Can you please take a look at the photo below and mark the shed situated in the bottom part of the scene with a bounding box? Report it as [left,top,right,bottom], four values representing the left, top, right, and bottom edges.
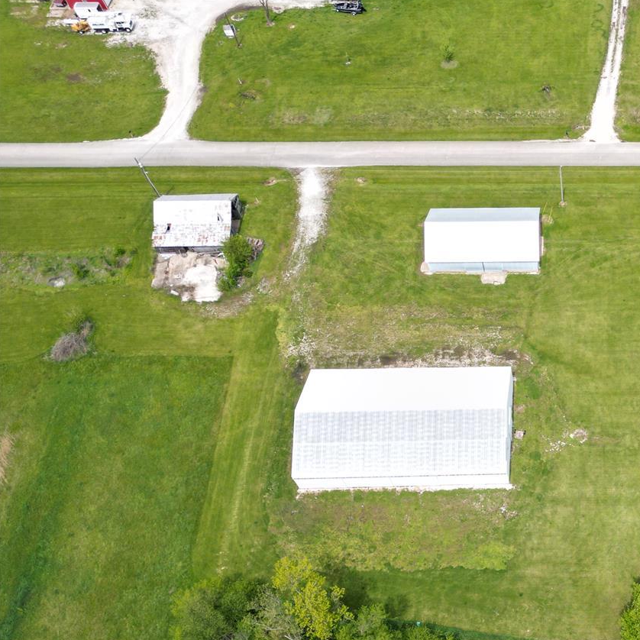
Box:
[288,363,513,493]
